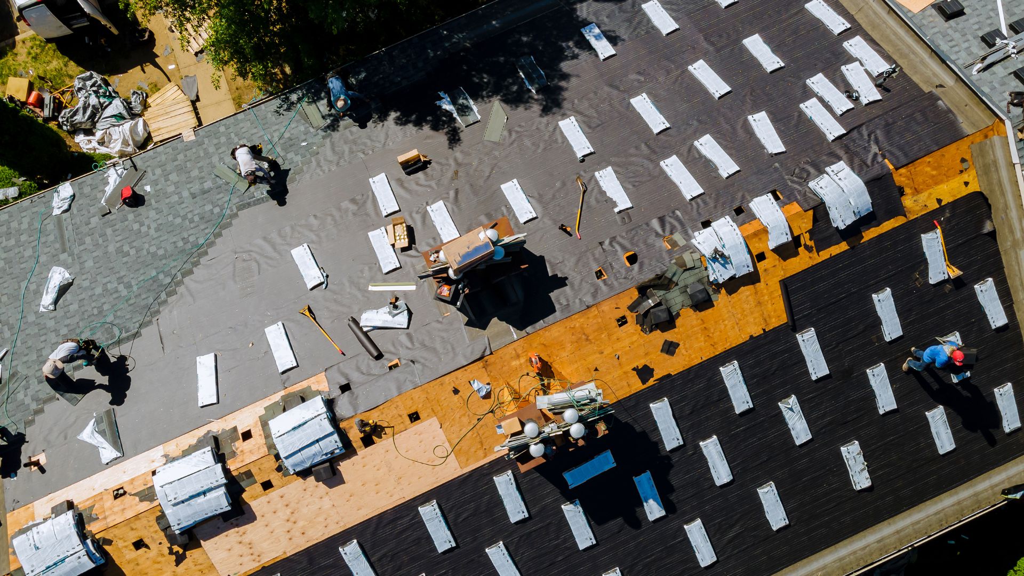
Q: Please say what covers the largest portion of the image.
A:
buildings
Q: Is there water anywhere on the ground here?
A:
No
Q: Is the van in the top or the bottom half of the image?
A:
top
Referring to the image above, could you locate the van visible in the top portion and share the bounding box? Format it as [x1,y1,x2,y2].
[9,0,104,49]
